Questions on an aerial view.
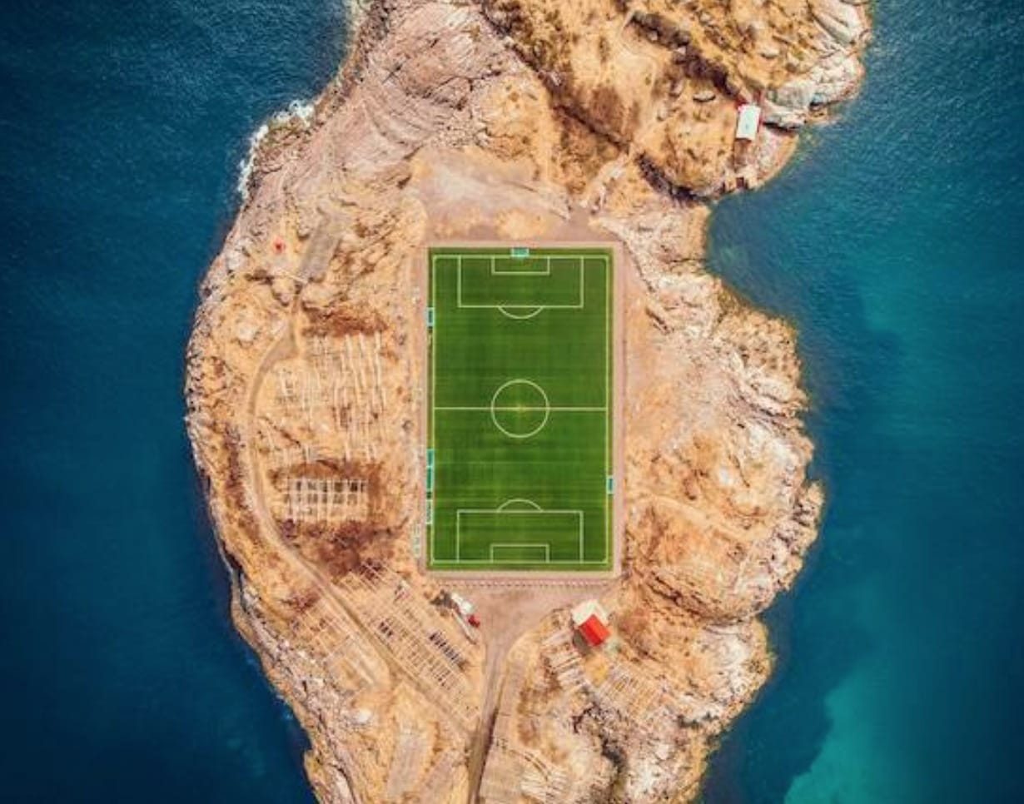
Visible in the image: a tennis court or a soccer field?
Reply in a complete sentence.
It is a soccer field that can be seen here.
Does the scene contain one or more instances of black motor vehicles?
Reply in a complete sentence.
No, there isn't any black motor vehicle down there.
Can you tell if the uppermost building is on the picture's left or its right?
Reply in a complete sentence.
You can find the uppermost building on the right side of the picture.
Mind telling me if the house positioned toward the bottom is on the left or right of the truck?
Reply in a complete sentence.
Compared with the truck, the house positioned toward the bottom is located further to the right.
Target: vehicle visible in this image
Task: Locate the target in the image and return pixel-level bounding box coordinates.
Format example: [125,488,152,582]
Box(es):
[452,593,480,625]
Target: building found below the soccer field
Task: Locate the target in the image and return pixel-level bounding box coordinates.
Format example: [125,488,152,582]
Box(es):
[567,596,610,644]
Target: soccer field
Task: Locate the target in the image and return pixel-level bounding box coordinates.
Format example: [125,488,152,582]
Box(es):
[419,239,621,579]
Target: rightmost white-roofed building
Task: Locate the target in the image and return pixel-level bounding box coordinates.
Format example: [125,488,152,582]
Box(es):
[734,102,759,144]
